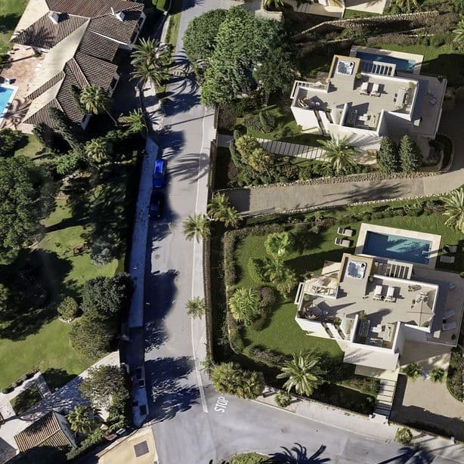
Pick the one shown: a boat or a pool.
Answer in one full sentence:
The image shows a pool.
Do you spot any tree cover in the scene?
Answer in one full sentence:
Yes, there's tree cover in this view.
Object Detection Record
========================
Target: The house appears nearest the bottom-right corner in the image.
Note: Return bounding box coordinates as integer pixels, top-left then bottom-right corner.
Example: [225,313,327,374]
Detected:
[292,251,464,398]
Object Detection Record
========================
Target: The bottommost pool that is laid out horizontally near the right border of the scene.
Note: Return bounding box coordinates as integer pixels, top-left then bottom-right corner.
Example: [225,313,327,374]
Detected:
[354,223,442,269]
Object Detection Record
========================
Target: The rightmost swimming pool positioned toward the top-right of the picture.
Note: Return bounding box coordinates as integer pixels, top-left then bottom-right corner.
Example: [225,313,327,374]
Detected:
[348,45,424,78]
